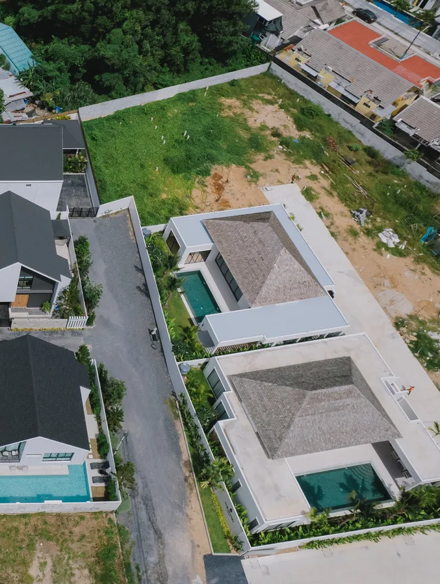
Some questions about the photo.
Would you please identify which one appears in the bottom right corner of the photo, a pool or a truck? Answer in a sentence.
The one visible in the bottom right corner of the photo is a pool.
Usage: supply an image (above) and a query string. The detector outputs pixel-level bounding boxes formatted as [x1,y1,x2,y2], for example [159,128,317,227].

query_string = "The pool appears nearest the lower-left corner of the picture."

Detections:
[0,457,93,502]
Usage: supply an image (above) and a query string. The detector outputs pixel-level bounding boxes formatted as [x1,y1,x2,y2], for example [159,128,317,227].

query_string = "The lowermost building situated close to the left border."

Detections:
[0,333,90,465]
